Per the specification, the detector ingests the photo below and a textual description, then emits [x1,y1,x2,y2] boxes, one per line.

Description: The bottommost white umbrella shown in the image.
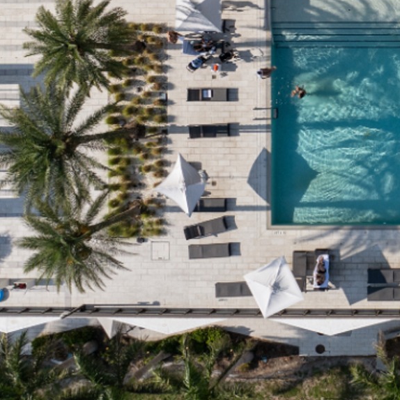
[243,257,303,318]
